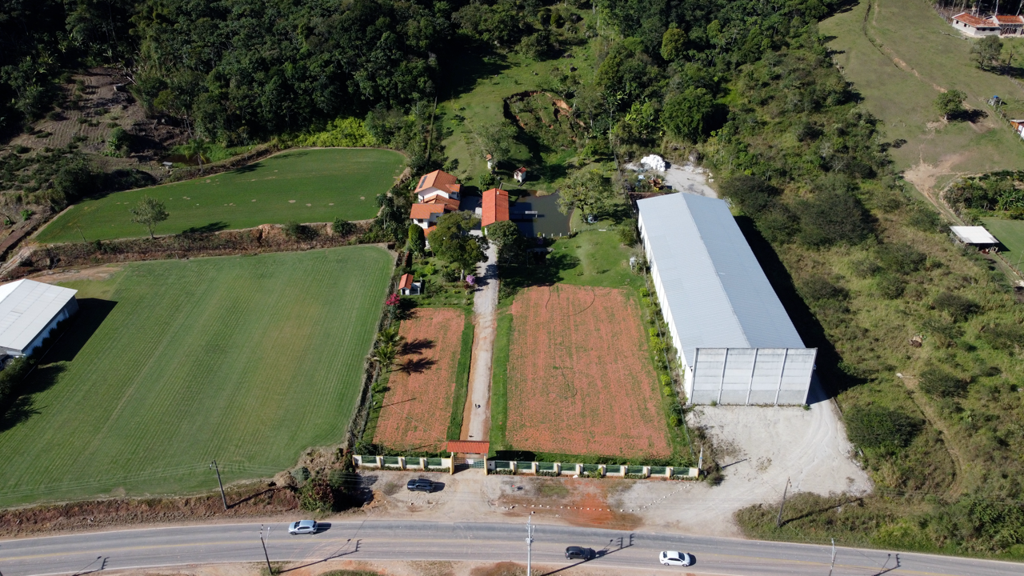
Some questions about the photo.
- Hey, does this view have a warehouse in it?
Yes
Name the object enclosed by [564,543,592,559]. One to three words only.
car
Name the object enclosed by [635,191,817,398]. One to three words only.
warehouse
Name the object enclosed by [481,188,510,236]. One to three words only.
building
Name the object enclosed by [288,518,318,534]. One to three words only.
car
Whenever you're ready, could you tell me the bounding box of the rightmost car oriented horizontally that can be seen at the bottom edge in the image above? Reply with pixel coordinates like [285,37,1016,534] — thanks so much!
[659,549,692,565]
